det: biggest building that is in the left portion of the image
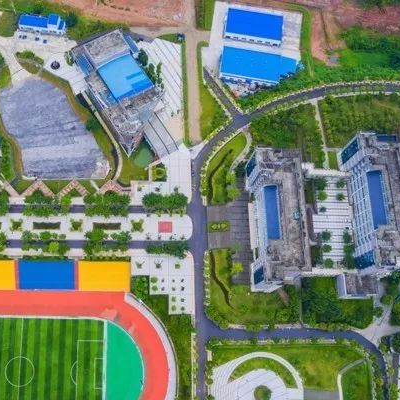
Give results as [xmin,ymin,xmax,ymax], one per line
[72,28,167,160]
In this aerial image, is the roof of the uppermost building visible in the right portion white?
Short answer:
No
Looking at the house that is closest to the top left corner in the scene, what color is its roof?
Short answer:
blue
